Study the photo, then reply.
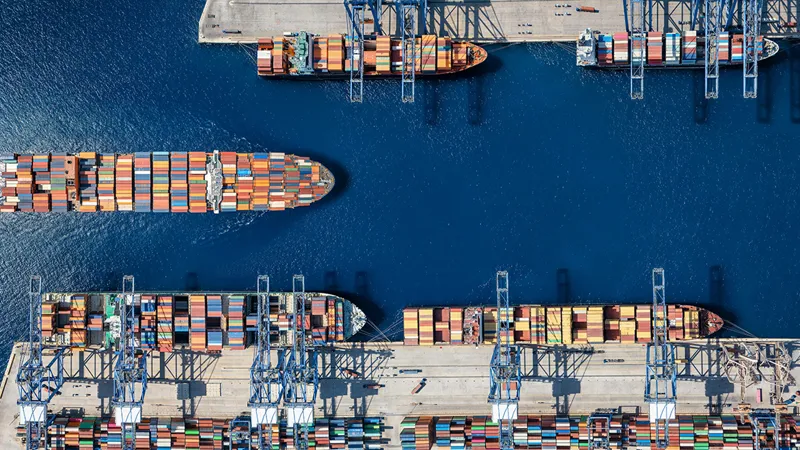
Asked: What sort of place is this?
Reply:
port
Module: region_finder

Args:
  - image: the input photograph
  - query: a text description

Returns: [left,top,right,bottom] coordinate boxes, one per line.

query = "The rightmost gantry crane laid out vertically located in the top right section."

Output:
[720,0,765,105]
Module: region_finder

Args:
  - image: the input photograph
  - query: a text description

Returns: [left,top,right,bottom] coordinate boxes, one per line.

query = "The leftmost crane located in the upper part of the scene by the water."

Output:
[341,0,385,105]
